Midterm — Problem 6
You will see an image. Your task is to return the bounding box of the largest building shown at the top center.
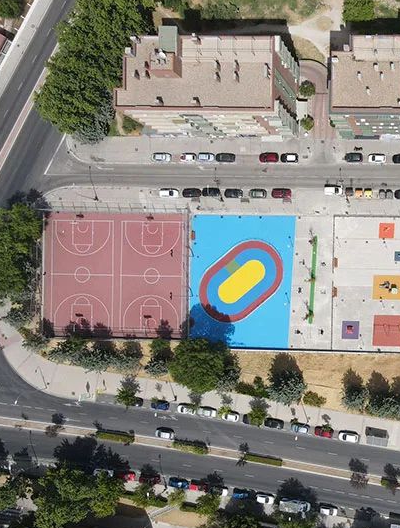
[113,25,302,144]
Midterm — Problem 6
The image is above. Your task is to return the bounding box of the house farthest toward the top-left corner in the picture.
[0,35,21,69]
